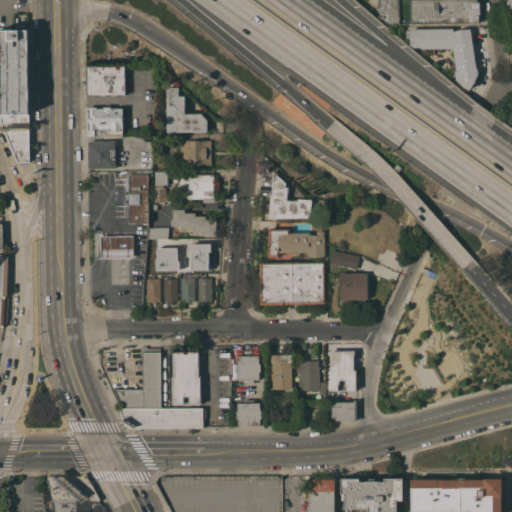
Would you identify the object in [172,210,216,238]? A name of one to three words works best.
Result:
house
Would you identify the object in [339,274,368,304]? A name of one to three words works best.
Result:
house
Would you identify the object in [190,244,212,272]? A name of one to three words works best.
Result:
building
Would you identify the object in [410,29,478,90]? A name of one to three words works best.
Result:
building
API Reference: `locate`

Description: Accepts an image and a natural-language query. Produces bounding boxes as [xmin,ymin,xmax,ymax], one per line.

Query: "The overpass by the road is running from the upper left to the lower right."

[326,118,474,272]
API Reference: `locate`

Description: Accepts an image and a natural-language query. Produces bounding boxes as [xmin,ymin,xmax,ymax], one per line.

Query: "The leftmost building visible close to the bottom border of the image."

[50,478,88,512]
